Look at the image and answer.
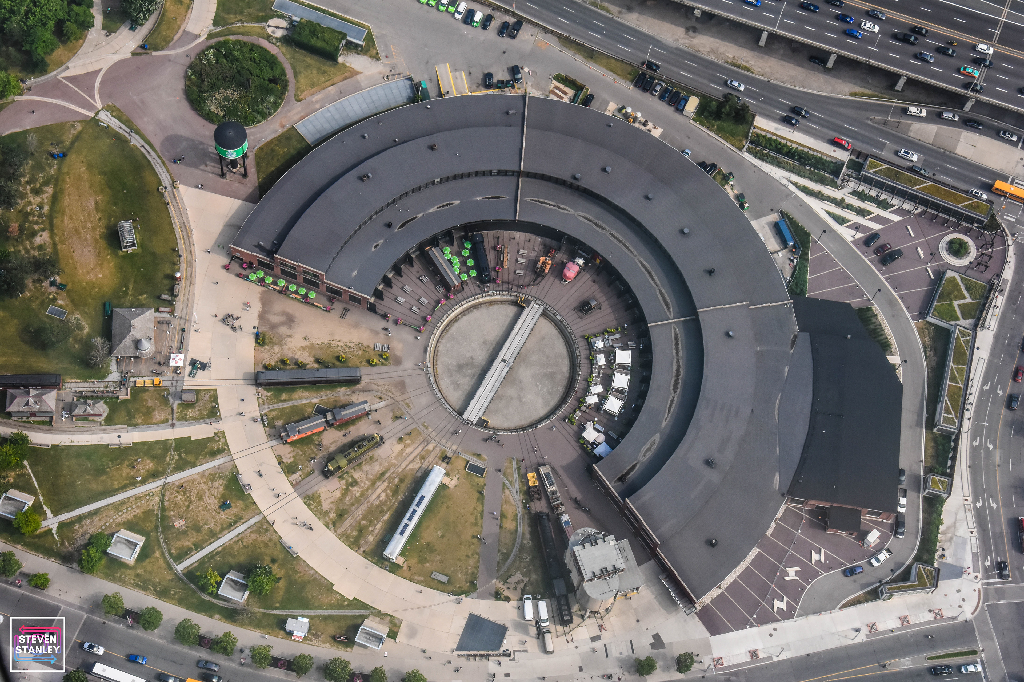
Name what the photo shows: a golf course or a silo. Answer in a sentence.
There is a silo in the scene.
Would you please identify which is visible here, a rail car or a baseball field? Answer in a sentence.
Visible in the photo is a rail car.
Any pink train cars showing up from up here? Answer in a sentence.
Yes, the image includes a pink train car.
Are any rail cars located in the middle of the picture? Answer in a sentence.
Yes, a rail car appears in the middle of the picture.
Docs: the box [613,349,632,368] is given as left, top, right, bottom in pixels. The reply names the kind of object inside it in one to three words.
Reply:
umbrella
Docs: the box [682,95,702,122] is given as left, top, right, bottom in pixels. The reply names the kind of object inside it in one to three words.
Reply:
vehicle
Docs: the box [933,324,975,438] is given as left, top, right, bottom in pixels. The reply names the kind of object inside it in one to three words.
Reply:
building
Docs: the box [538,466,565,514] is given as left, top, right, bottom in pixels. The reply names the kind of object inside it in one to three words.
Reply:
rail car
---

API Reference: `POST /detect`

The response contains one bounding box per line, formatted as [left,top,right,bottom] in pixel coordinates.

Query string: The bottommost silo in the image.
[566,546,616,616]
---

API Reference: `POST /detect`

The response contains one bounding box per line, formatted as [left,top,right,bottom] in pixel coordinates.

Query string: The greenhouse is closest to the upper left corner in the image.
[118,218,136,251]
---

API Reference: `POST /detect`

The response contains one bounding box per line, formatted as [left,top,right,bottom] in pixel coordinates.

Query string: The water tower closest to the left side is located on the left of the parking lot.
[213,120,248,177]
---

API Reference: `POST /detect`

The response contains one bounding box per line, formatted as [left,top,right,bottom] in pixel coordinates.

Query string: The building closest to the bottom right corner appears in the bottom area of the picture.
[879,563,939,599]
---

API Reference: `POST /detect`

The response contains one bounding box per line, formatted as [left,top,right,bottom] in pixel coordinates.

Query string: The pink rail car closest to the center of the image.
[562,257,582,284]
